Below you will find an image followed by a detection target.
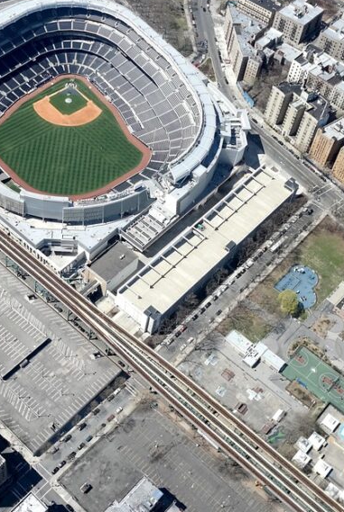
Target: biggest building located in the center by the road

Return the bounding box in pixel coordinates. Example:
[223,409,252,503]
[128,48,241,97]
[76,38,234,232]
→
[116,163,298,334]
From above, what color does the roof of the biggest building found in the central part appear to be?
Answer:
white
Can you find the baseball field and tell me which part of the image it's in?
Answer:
top left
